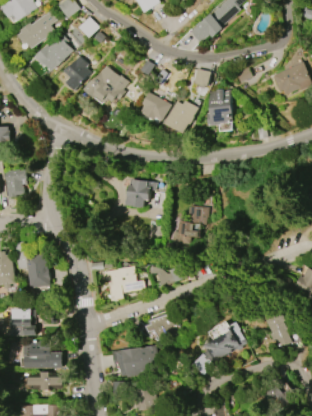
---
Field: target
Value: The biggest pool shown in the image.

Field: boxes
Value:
[252,12,272,35]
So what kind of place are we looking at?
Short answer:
residential area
